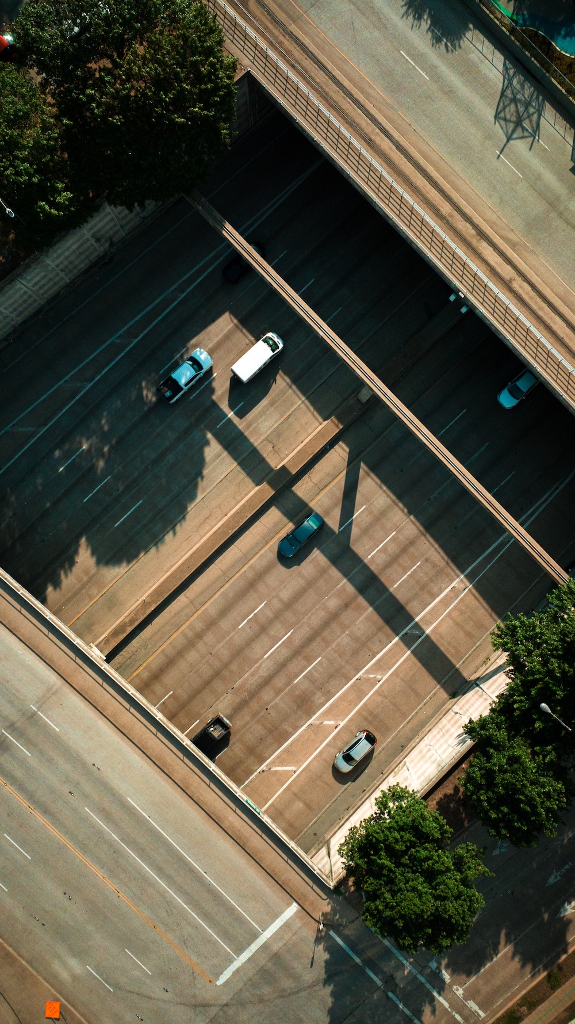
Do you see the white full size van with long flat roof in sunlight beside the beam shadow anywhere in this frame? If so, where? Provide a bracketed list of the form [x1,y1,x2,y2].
[231,335,283,385]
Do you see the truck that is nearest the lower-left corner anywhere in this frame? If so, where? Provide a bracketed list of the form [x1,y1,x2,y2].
[186,711,234,759]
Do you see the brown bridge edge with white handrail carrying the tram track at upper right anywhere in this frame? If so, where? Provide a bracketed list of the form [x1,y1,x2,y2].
[245,67,575,416]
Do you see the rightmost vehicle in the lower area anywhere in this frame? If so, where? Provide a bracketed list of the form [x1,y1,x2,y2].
[337,730,378,772]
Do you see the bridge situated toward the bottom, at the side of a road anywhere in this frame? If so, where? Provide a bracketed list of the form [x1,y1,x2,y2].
[0,567,341,905]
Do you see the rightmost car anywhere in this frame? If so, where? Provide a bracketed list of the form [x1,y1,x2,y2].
[499,367,540,408]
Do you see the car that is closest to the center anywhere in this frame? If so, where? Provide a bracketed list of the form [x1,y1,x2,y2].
[281,510,326,557]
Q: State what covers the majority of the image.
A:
paved ground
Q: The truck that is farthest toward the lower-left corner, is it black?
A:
Yes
